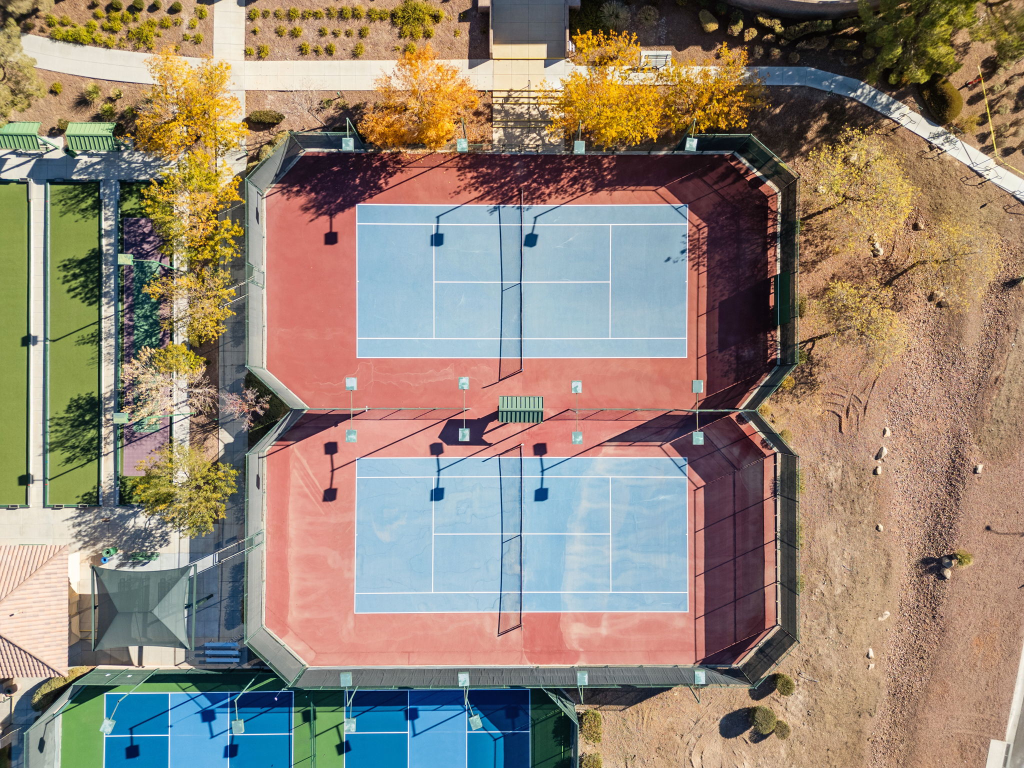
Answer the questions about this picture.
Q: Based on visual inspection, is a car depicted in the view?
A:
No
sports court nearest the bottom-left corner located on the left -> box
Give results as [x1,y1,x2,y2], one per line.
[105,693,293,768]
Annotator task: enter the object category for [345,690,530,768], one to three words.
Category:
sports court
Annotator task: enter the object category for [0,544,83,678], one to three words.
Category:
building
